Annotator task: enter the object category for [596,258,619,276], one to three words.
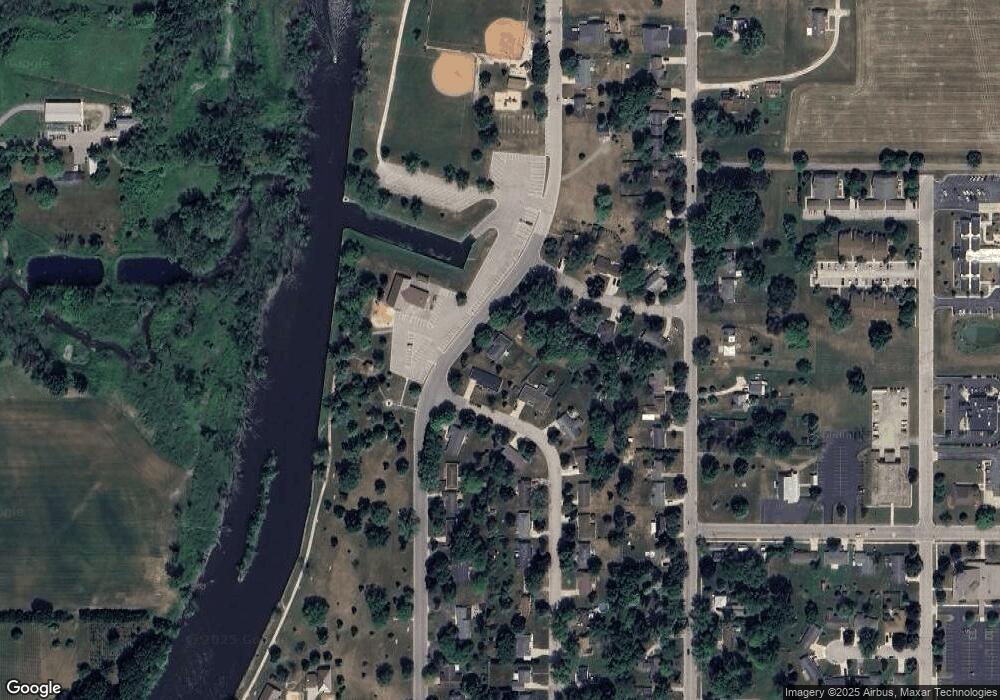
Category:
house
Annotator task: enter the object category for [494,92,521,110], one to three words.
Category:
playground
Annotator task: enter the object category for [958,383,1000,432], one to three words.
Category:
building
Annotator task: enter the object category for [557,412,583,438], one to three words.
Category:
house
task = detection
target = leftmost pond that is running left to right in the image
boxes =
[26,256,103,290]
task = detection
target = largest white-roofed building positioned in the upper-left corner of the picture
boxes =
[44,103,81,122]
